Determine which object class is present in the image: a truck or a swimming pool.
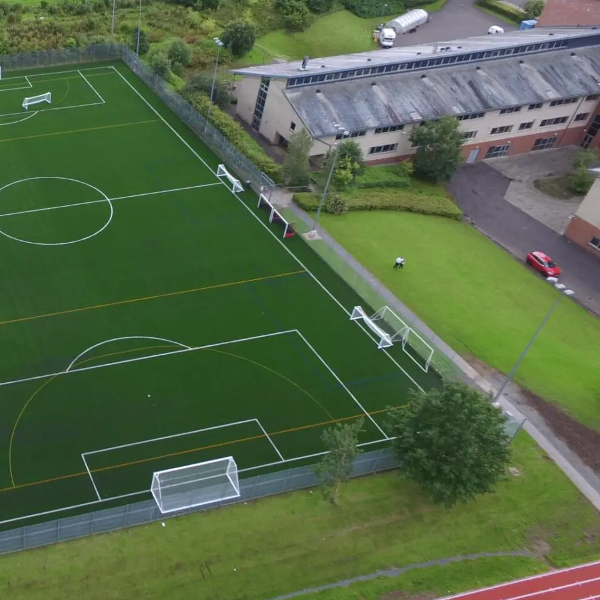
truck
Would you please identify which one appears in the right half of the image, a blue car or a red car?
red car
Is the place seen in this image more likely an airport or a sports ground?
sports ground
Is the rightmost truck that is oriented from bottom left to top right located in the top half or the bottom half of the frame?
top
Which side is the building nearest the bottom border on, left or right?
right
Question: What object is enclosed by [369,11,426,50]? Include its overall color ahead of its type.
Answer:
white truck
